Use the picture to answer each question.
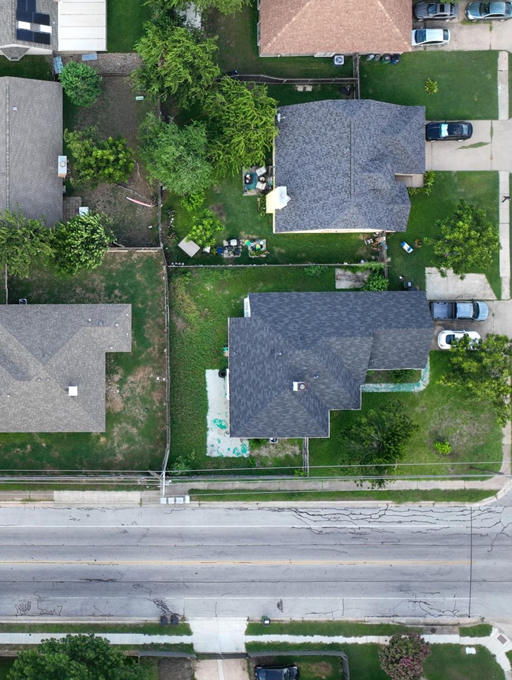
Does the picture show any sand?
No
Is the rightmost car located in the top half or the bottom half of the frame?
top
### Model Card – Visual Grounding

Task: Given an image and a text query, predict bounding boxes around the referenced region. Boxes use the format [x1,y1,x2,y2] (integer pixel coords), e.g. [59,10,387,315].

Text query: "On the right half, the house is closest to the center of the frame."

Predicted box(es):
[225,291,434,438]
